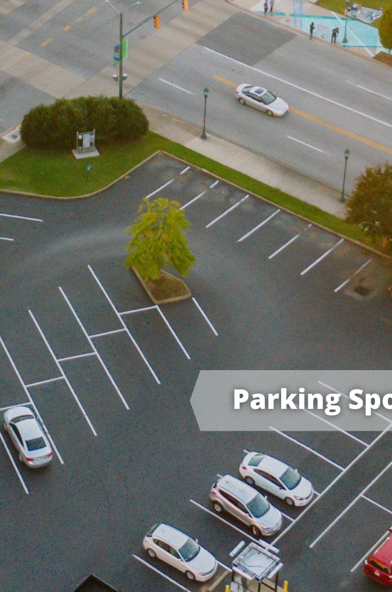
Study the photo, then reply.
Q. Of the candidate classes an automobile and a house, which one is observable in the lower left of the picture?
automobile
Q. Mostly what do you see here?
paved ground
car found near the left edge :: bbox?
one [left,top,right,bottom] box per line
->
[2,409,50,466]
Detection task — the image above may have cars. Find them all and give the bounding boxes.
[208,478,285,537]
[2,409,50,466]
[143,525,217,583]
[367,530,392,586]
[232,83,292,118]
[240,454,318,509]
